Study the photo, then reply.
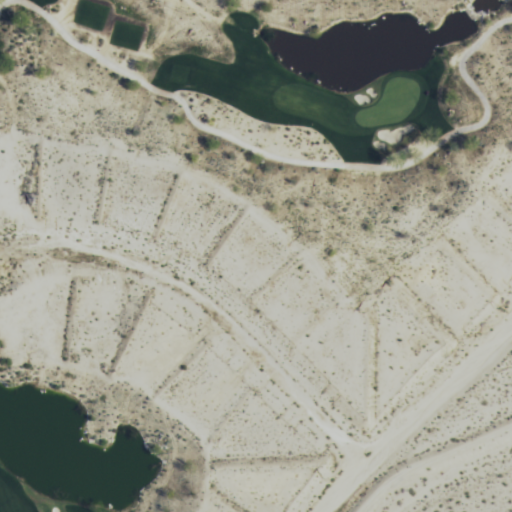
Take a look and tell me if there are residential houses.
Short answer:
No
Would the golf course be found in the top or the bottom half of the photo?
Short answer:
top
